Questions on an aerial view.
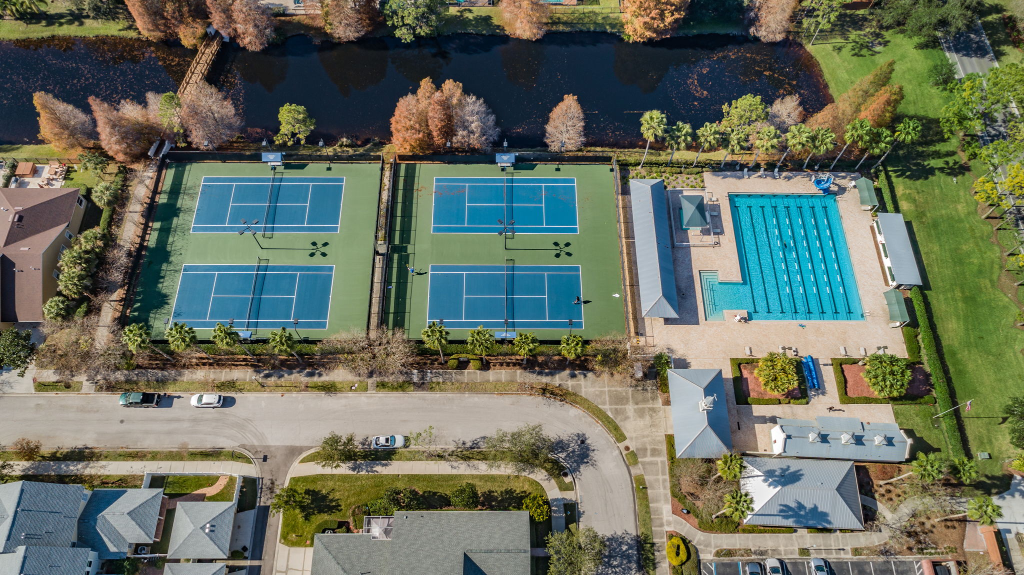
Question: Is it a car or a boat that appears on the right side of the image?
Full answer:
Visible on the right side of the image is a car.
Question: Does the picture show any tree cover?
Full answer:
Yes, the picture does contain tree cover.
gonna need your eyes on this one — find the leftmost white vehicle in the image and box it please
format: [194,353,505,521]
[190,393,223,409]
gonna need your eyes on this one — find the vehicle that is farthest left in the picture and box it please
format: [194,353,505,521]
[117,392,161,408]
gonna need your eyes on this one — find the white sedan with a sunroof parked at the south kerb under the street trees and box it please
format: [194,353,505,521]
[372,434,407,450]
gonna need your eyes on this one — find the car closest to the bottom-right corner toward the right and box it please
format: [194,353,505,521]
[813,554,833,575]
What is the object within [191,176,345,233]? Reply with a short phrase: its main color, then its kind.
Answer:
blue tennis court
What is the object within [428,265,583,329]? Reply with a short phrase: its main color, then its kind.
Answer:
blue tennis court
